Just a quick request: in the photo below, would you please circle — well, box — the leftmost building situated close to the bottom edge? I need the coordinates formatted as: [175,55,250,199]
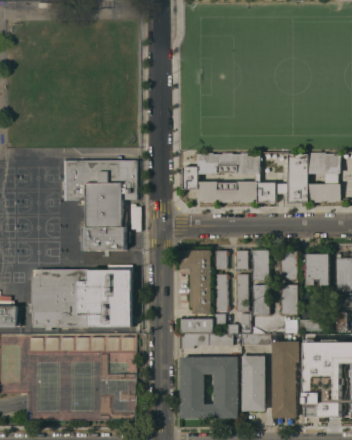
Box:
[180,357,238,418]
